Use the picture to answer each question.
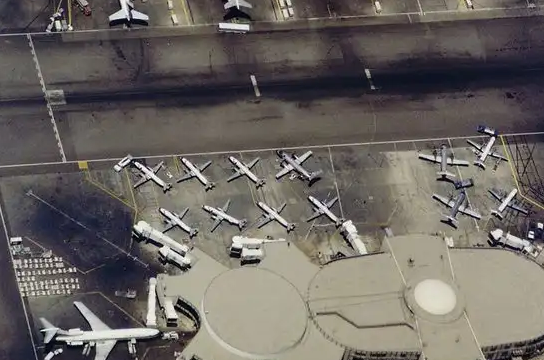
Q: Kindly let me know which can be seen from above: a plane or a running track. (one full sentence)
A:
I can see a plane in this picture.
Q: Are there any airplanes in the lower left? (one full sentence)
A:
Yes, an airplane shows up in the lower left.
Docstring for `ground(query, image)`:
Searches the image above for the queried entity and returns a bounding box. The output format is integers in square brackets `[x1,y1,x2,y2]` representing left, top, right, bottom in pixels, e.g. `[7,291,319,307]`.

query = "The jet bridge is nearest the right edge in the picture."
[489,230,541,261]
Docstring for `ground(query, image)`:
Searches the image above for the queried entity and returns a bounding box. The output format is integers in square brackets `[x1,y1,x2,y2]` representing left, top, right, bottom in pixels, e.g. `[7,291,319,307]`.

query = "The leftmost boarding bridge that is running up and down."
[142,274,158,328]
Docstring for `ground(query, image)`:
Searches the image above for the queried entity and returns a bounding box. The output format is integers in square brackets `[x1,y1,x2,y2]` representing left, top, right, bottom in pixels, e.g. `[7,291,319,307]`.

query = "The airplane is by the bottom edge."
[42,301,161,360]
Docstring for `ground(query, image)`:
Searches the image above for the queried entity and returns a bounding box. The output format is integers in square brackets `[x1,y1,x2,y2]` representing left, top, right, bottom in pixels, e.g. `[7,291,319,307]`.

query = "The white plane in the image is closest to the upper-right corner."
[467,137,508,166]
